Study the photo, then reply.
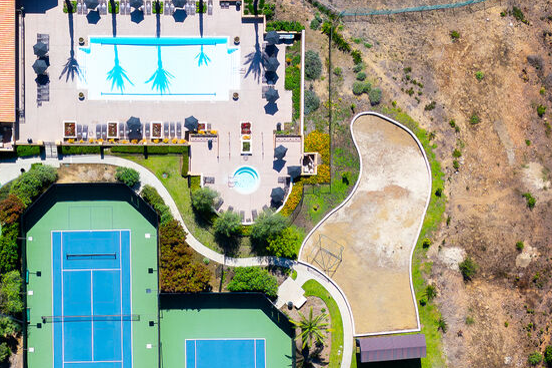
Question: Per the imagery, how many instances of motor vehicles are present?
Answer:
0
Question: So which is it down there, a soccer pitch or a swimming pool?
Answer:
swimming pool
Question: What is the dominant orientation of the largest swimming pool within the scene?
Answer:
horizontally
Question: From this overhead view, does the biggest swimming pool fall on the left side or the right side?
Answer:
left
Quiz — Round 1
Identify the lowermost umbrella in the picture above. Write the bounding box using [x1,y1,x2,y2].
[271,188,285,201]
